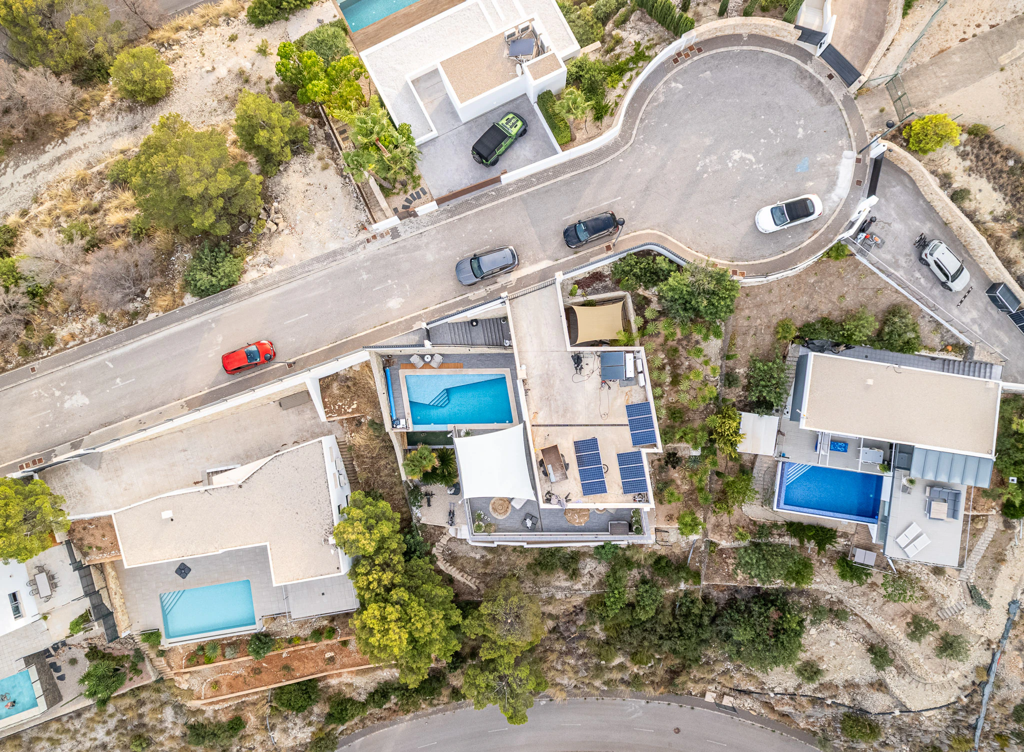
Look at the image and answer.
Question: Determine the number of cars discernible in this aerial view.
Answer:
6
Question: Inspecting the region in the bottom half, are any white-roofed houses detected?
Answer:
Yes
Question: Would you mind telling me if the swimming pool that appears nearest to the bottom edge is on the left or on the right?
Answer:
left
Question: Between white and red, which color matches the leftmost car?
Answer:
red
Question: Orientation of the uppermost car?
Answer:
diagonally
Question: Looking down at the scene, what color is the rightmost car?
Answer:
white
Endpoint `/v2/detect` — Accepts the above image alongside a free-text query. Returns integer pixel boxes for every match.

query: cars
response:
[753,194,823,236]
[561,209,622,249]
[219,339,280,377]
[913,236,969,296]
[470,108,529,170]
[455,243,521,286]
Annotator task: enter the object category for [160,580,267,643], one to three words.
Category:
swimming pool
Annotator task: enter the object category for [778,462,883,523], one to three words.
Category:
swimming pool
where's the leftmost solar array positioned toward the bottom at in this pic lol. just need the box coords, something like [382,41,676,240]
[573,437,607,496]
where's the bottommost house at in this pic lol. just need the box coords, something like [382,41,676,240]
[0,559,38,632]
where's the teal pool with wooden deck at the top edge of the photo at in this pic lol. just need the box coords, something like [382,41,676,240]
[340,0,416,31]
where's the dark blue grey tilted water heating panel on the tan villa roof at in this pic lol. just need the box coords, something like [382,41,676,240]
[509,38,534,63]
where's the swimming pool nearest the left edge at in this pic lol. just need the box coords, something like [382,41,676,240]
[0,664,44,719]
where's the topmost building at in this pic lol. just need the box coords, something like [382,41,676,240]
[360,0,580,152]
